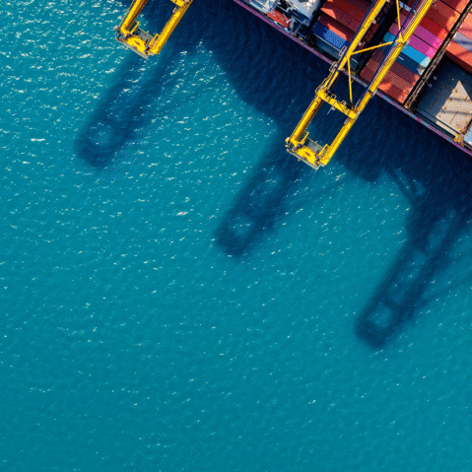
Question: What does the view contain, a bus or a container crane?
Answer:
container crane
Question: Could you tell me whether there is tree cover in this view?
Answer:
No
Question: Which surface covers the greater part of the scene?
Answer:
water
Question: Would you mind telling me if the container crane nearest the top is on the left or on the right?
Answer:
left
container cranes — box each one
[281,0,429,168]
[111,0,191,58]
